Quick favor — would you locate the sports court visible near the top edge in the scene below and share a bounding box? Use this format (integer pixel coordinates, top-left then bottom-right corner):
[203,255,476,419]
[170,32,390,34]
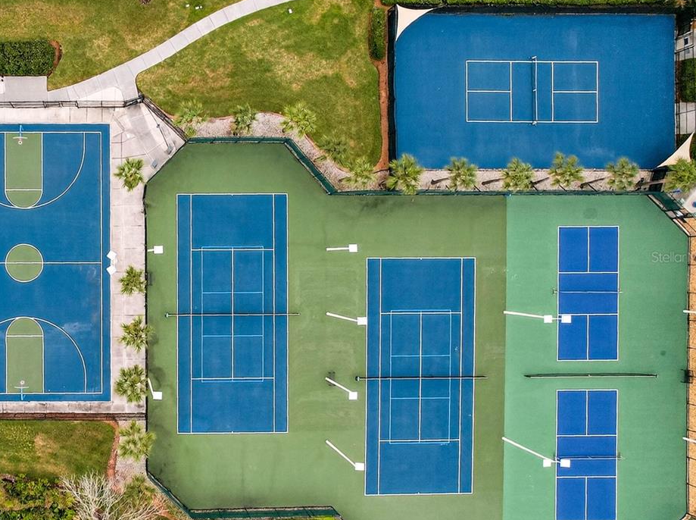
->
[395,13,676,168]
